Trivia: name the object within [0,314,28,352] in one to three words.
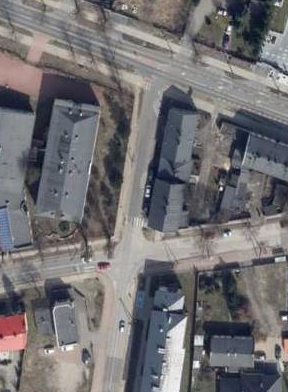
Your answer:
house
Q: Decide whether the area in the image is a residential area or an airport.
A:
residential area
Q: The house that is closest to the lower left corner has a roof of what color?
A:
red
